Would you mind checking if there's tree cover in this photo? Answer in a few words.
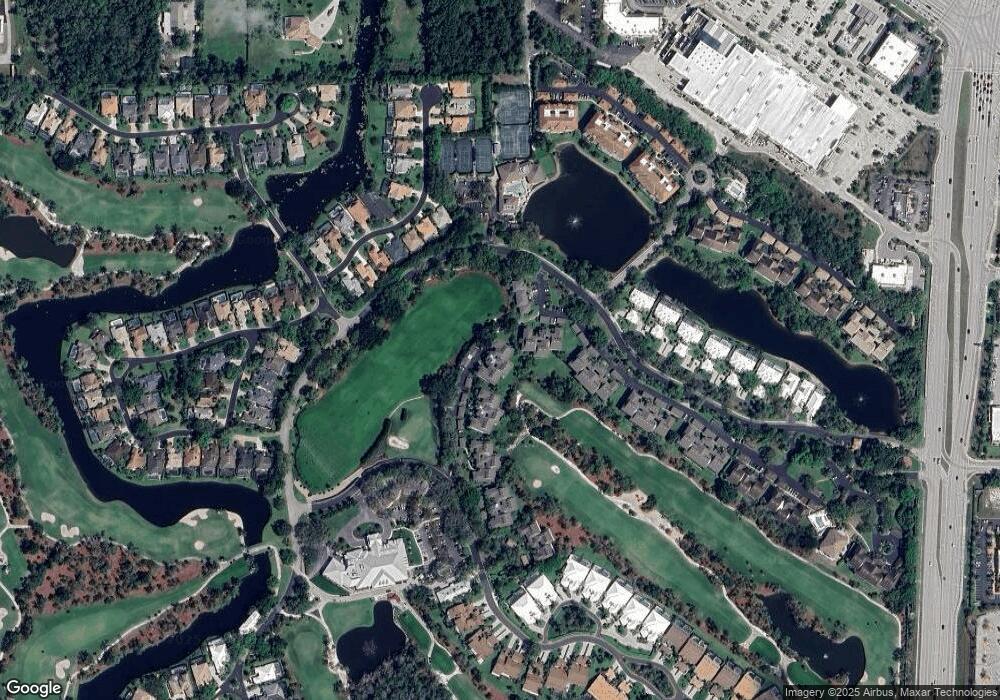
Yes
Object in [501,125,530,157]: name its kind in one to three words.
tennis court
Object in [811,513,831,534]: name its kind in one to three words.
swimming pool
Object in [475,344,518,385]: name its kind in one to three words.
building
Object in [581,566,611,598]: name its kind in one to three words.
house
